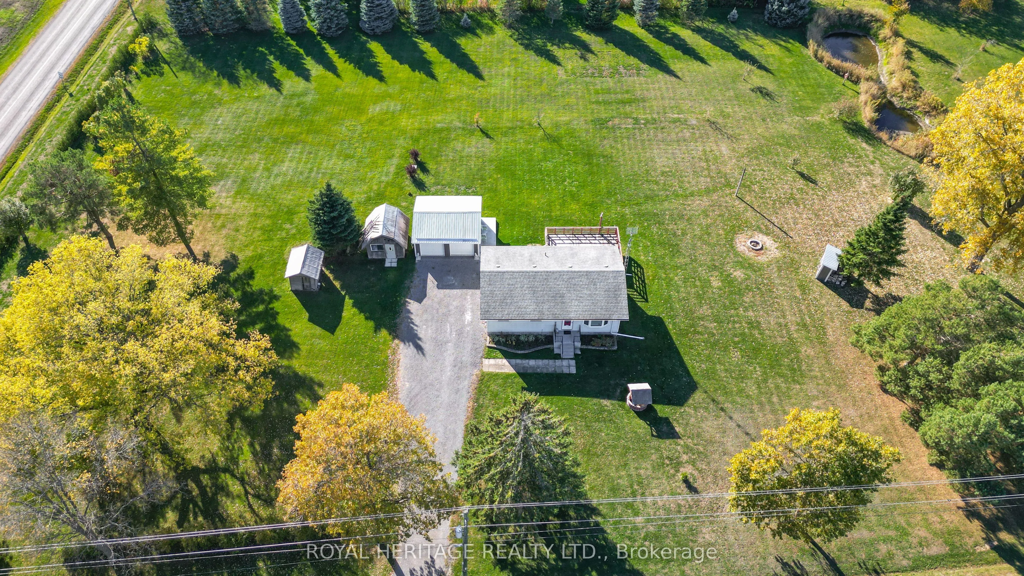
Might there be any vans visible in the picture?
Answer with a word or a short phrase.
No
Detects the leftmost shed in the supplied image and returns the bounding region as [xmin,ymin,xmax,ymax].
[281,244,321,291]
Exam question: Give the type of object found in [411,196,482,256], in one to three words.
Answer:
building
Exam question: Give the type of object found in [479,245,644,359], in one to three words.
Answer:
house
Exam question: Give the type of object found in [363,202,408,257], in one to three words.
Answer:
shed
